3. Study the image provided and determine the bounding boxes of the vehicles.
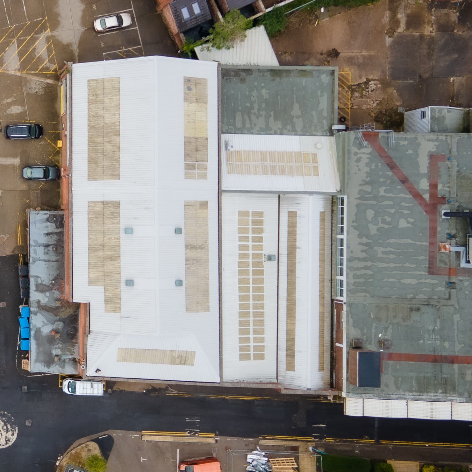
[22,164,59,182]
[4,122,43,141]
[92,11,132,34]
[62,378,105,397]
[177,456,223,472]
